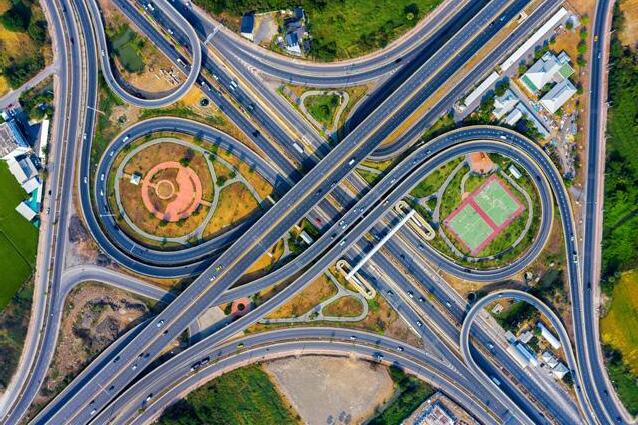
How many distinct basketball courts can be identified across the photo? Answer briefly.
two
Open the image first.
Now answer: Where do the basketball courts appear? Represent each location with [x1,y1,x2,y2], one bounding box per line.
[468,176,525,231]
[442,198,497,255]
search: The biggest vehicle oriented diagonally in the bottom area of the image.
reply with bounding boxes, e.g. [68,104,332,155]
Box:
[190,355,210,372]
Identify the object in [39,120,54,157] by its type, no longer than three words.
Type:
shed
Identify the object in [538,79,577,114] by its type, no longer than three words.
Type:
building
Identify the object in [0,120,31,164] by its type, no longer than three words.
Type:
building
